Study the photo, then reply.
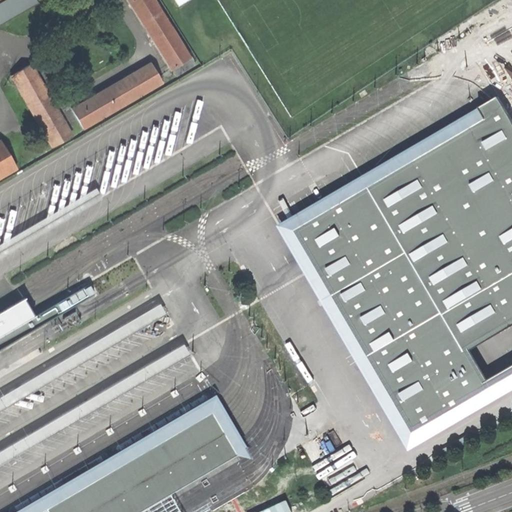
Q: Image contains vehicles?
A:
Yes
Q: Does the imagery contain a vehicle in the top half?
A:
Yes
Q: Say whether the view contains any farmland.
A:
No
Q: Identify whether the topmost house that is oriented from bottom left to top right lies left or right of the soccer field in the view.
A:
to the left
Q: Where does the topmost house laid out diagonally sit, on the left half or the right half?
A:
left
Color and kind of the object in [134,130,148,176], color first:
white vehicle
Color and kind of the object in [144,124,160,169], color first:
white vehicle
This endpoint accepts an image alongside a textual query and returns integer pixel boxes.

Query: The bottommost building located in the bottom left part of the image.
[17,396,252,512]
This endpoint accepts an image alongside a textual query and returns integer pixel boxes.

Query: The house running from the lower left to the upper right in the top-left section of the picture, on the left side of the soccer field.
[73,62,164,130]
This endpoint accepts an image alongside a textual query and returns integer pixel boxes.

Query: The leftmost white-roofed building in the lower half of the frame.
[0,298,38,344]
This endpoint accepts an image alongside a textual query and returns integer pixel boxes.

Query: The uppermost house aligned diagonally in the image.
[128,0,194,74]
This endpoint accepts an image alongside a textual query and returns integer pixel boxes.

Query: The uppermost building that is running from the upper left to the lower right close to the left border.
[11,66,74,148]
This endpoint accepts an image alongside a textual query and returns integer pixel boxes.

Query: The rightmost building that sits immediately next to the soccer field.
[279,97,512,451]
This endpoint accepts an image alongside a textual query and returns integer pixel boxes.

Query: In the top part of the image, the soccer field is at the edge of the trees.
[158,0,500,137]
